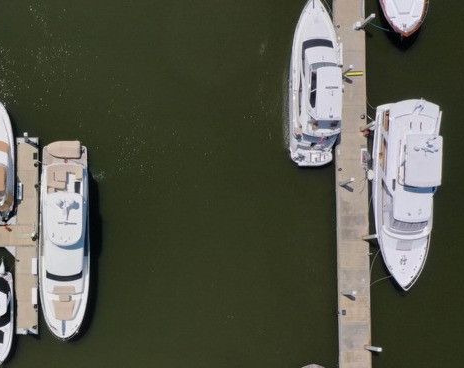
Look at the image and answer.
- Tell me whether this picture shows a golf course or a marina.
marina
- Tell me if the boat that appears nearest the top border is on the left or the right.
right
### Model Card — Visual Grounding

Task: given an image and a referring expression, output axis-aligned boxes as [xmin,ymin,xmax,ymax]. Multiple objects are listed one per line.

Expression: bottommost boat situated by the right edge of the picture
[364,99,442,291]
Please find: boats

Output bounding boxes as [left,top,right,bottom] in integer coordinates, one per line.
[364,99,442,291]
[0,257,16,363]
[0,103,17,225]
[368,0,433,40]
[47,142,85,158]
[283,0,343,167]
[36,146,90,339]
